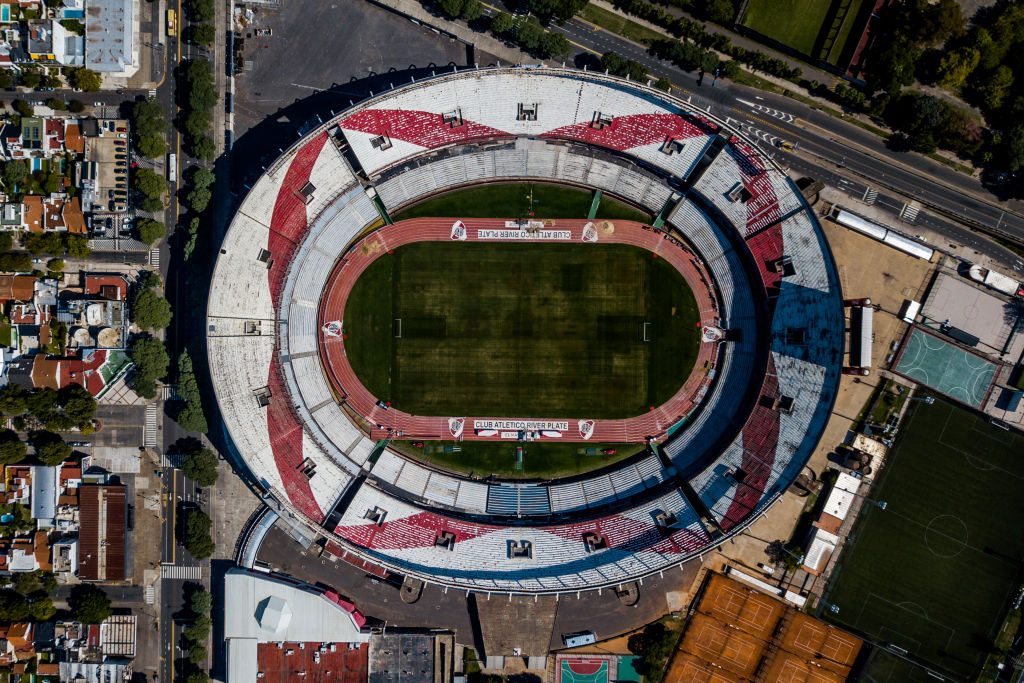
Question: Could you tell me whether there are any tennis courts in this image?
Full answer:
Yes, this view includes a tennis court.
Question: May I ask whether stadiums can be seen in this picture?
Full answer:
Yes, the frame does contain a stadium.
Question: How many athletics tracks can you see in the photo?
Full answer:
The count comes to 1 athletics track.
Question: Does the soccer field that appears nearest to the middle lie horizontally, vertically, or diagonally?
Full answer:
In this picture, the soccer field that appears nearest to the middle lies horizontally.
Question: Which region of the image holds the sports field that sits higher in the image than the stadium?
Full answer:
The sports field that sits higher in the image than the stadium appears toward the top right of the photo.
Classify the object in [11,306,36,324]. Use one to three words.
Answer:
house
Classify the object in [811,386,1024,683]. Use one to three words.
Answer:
soccer field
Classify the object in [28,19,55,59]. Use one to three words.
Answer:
building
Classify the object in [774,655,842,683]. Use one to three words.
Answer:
tennis court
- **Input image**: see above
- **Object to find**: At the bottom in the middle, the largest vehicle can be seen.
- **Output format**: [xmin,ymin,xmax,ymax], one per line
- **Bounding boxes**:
[566,634,595,647]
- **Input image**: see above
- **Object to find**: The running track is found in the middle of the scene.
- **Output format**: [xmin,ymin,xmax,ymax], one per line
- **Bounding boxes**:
[322,219,723,441]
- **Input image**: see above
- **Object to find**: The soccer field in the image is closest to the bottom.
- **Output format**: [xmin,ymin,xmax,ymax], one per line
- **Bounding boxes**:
[846,645,947,683]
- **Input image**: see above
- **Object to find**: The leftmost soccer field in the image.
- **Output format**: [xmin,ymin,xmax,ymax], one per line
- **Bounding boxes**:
[345,243,699,417]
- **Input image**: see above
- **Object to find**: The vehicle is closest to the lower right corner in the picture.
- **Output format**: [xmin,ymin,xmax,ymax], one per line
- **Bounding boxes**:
[759,563,776,575]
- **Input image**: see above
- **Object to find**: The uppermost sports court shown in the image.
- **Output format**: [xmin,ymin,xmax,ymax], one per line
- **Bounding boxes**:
[923,274,1013,348]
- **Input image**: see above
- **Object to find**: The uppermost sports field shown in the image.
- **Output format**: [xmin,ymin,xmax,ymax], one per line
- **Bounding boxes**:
[744,0,835,54]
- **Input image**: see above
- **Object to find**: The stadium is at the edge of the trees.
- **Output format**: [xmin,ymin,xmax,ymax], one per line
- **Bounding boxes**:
[205,56,846,603]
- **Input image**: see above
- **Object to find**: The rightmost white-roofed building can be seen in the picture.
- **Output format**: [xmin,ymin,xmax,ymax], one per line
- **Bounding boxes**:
[976,271,1018,295]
